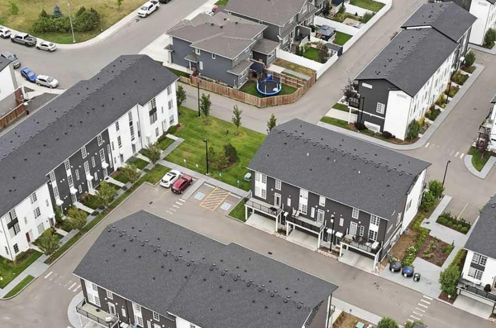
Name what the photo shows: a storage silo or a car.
car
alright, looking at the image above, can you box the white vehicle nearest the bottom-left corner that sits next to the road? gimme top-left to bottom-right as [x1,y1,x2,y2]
[158,168,181,187]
